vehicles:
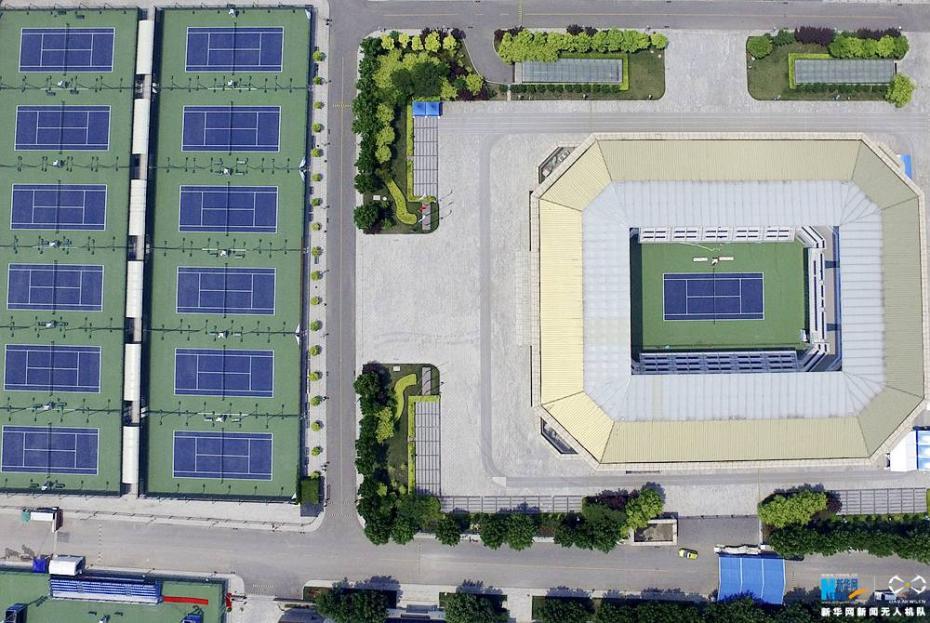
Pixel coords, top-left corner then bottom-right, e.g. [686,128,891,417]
[872,590,900,602]
[22,509,51,523]
[678,549,698,560]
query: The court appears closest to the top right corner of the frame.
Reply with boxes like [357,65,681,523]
[661,267,766,325]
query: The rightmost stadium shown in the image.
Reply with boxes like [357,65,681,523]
[514,133,930,472]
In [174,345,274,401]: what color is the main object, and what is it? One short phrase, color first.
blue tennis court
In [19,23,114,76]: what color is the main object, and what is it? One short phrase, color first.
blue tennis court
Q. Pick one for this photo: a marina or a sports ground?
sports ground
